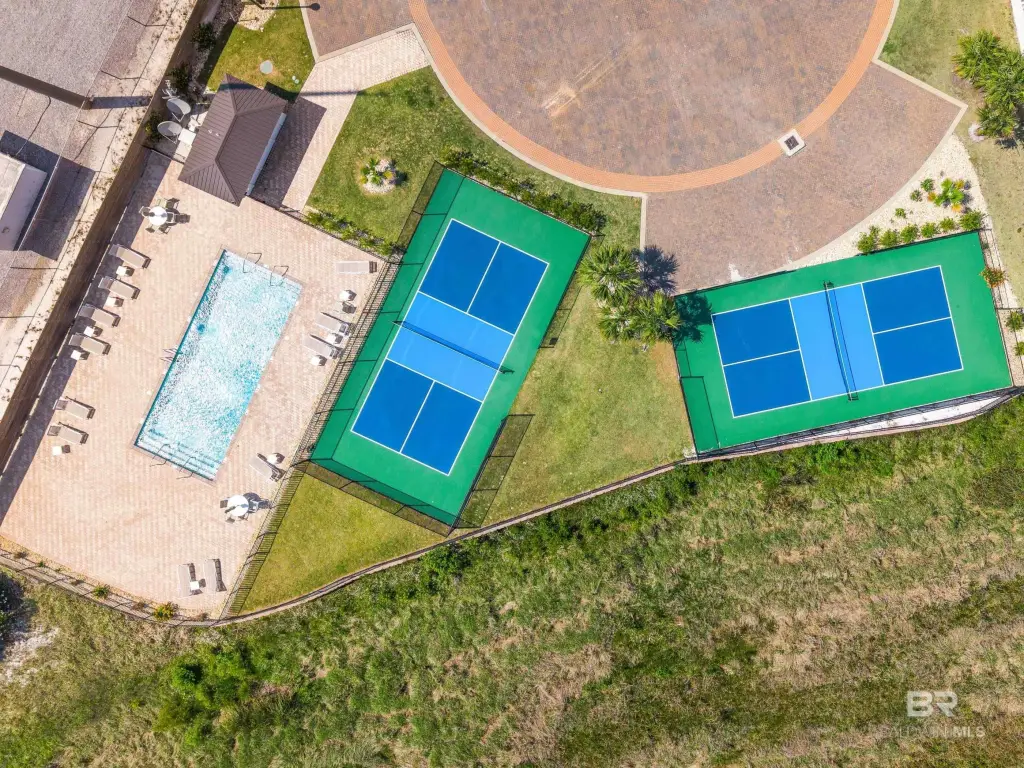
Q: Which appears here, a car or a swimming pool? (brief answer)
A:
swimming pool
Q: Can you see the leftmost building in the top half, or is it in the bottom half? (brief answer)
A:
top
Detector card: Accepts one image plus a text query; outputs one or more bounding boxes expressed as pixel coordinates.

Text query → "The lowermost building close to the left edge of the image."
[0,145,60,250]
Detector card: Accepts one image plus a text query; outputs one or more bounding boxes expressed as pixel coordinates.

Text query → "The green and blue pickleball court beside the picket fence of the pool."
[311,168,591,528]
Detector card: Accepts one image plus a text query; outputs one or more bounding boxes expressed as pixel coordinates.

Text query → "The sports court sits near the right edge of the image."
[667,231,1012,455]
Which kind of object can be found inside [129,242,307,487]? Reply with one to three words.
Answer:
swimming pool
